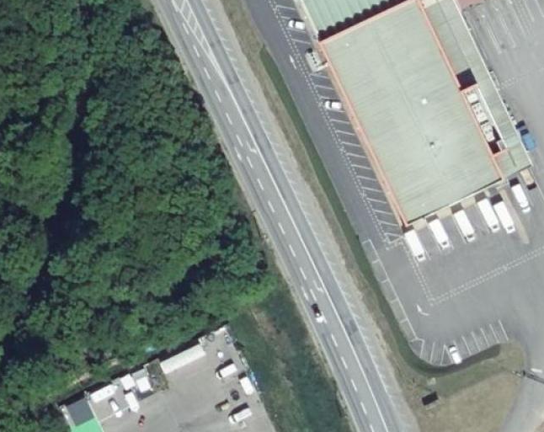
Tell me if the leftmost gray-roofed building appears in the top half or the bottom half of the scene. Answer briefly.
bottom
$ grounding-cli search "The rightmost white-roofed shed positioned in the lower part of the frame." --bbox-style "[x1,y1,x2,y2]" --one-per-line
[160,345,206,373]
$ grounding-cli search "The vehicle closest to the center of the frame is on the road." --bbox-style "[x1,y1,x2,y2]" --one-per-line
[311,302,325,322]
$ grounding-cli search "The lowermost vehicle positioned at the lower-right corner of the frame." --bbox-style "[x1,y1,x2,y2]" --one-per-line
[448,346,463,365]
